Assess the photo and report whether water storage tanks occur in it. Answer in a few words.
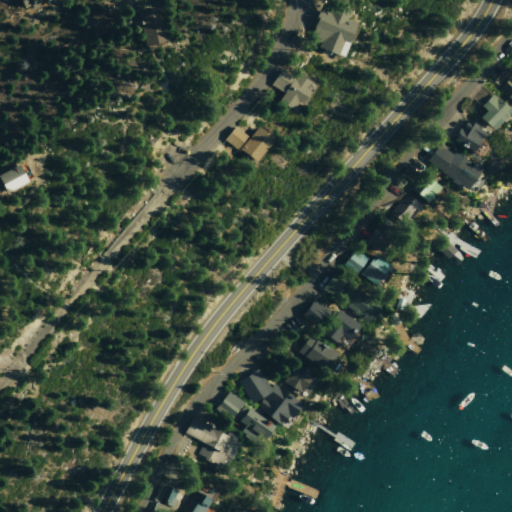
No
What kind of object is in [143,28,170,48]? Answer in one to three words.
house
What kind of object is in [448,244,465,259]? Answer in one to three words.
boat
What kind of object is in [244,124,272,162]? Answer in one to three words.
building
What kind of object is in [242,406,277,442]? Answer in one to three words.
house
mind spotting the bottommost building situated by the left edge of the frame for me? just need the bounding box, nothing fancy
[0,164,30,192]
